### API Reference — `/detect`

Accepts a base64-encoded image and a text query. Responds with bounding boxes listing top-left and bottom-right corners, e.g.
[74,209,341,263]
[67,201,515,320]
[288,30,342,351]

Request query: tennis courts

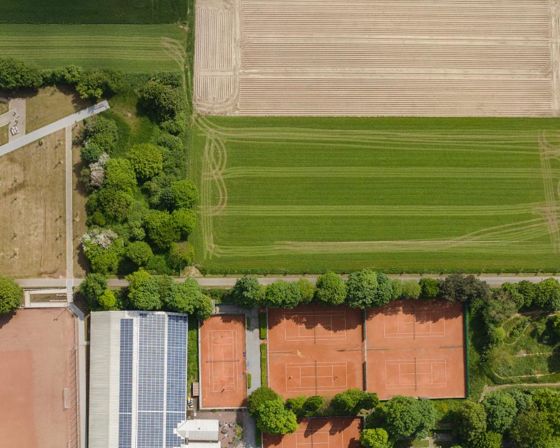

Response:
[200,314,247,408]
[262,415,364,448]
[367,348,468,400]
[367,301,467,350]
[269,354,366,399]
[267,306,364,355]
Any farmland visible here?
Yes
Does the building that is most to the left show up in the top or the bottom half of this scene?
bottom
